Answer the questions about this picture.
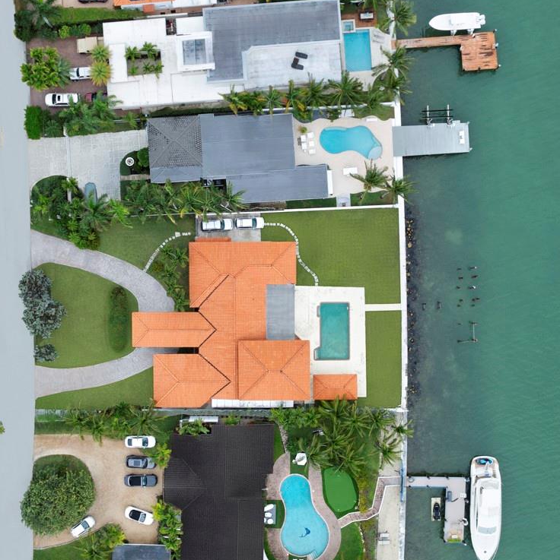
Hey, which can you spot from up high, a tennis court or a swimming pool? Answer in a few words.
swimming pool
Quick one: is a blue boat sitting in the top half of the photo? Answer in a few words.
No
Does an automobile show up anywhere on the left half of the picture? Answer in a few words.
Yes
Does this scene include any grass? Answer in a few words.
Yes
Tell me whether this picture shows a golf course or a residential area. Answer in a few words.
residential area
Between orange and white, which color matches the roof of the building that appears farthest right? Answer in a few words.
orange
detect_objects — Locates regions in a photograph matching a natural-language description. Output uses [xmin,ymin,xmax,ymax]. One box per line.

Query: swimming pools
[340,18,355,32]
[278,473,331,560]
[341,26,375,74]
[317,124,384,161]
[314,301,351,361]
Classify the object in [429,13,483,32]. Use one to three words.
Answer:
boat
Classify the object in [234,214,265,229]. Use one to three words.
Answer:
car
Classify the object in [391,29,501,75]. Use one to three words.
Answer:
pier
